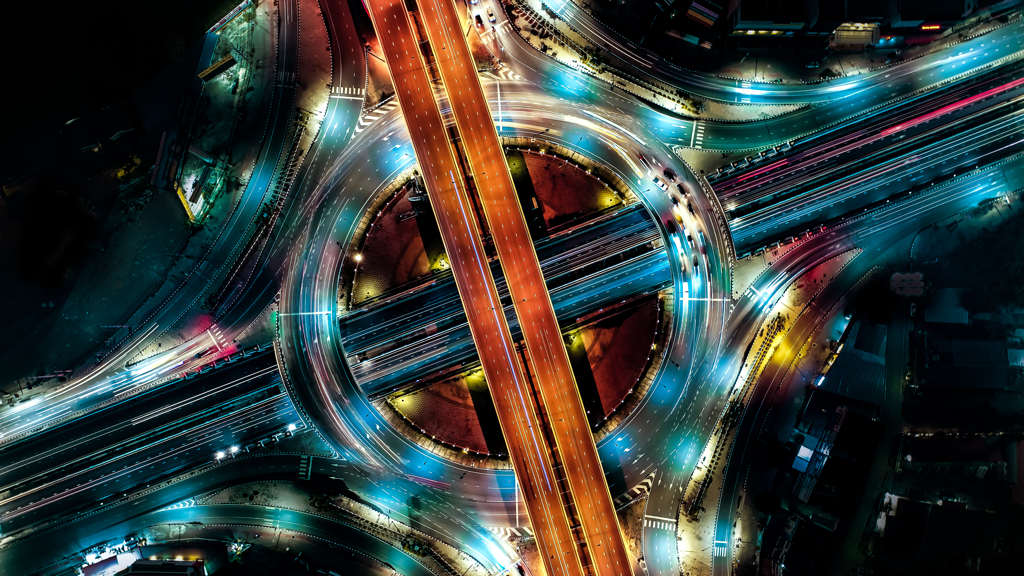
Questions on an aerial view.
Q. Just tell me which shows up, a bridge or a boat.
bridge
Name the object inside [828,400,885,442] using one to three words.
building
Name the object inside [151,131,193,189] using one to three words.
building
